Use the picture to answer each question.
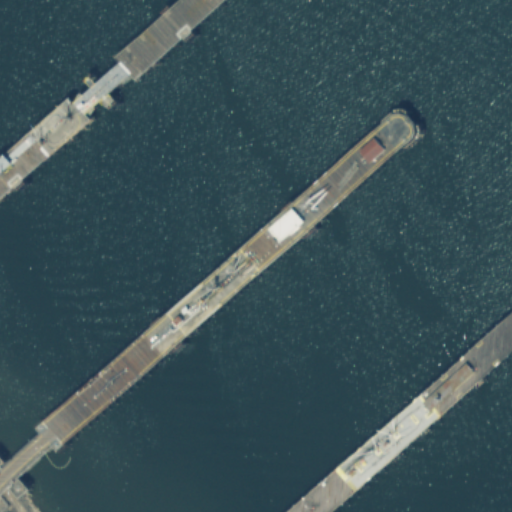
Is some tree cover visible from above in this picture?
No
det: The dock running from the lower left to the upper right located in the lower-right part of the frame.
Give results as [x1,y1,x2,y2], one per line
[286,312,512,512]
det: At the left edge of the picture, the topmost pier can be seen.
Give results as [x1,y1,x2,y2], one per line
[0,98,90,204]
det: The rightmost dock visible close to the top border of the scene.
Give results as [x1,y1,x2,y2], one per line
[114,0,228,80]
